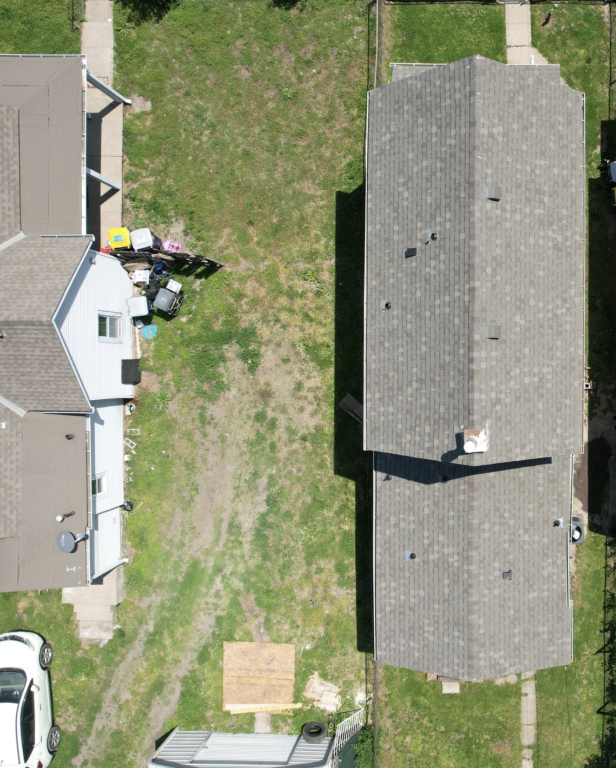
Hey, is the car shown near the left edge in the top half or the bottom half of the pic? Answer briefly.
bottom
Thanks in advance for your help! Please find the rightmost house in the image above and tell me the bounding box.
[360,44,589,680]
